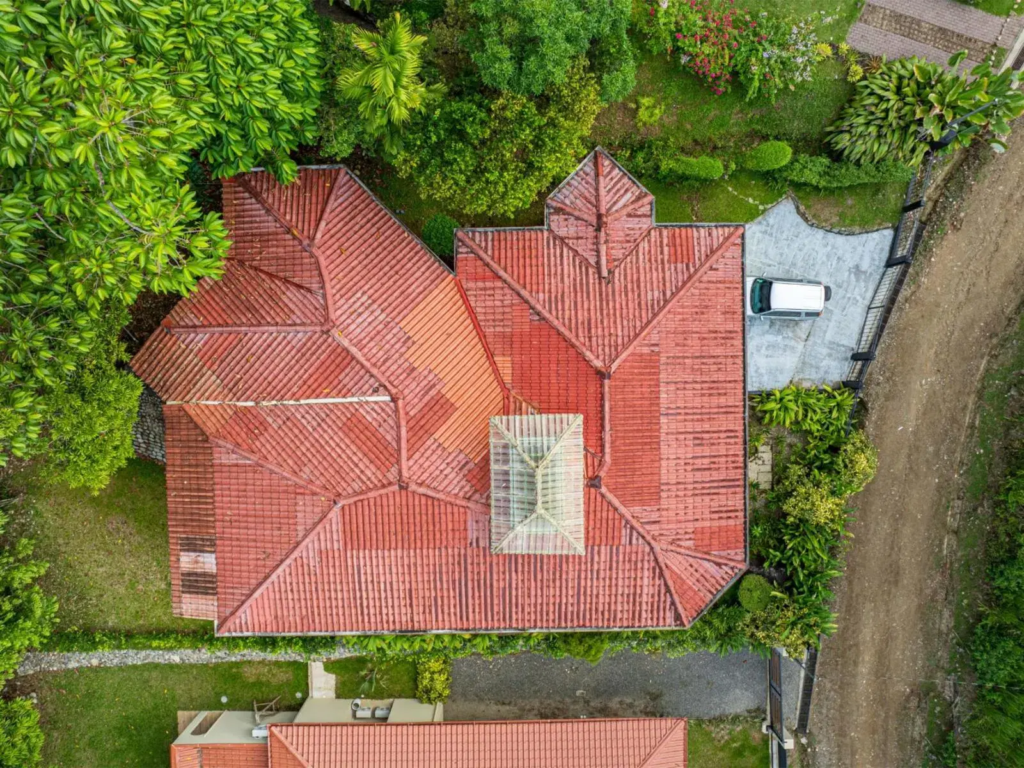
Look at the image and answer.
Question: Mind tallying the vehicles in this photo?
one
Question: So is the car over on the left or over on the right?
right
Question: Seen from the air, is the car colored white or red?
white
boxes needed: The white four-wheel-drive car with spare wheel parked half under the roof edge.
[747,276,831,326]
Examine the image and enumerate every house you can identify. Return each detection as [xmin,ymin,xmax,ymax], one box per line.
[131,146,749,636]
[167,699,690,768]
